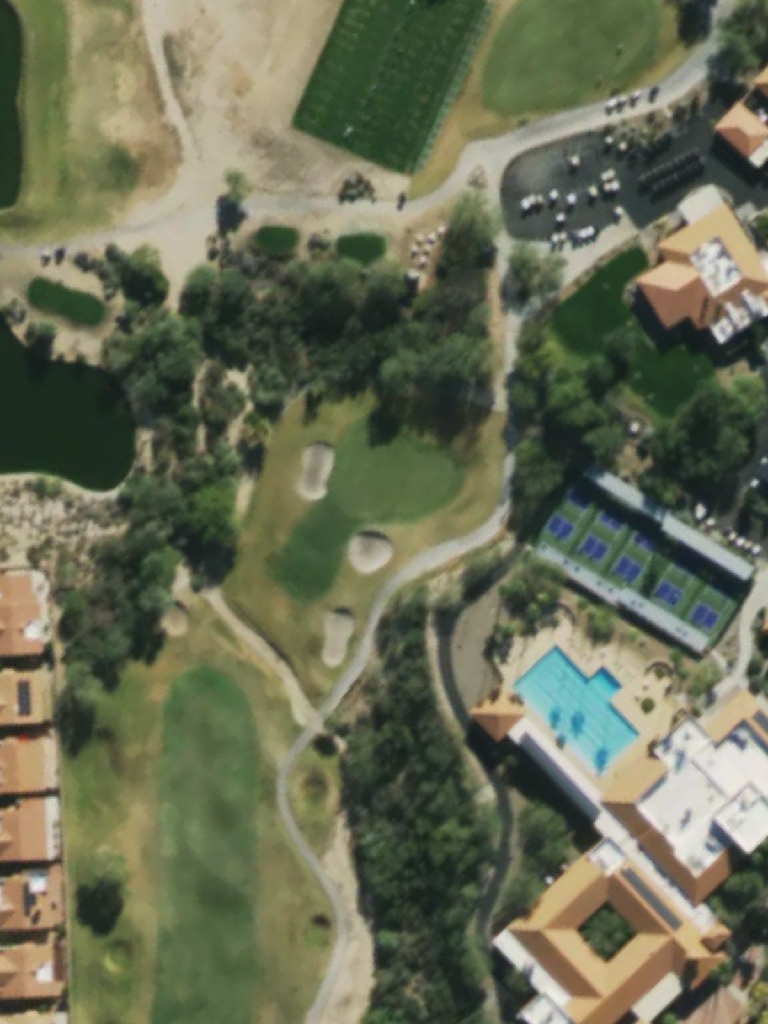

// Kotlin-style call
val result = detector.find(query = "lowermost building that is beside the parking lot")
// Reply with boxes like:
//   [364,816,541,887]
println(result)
[638,183,768,344]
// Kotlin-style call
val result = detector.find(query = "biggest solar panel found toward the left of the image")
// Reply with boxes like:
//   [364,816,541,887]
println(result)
[17,680,29,715]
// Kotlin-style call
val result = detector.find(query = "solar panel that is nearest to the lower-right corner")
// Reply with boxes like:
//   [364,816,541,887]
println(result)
[621,869,684,932]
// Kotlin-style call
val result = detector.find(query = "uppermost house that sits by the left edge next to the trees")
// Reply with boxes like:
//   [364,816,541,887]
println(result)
[0,570,51,656]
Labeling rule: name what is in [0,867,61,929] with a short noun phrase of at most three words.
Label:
house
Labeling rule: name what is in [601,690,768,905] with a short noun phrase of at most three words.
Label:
building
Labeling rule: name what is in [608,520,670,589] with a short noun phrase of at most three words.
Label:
sports court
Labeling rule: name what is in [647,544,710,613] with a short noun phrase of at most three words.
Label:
sports court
